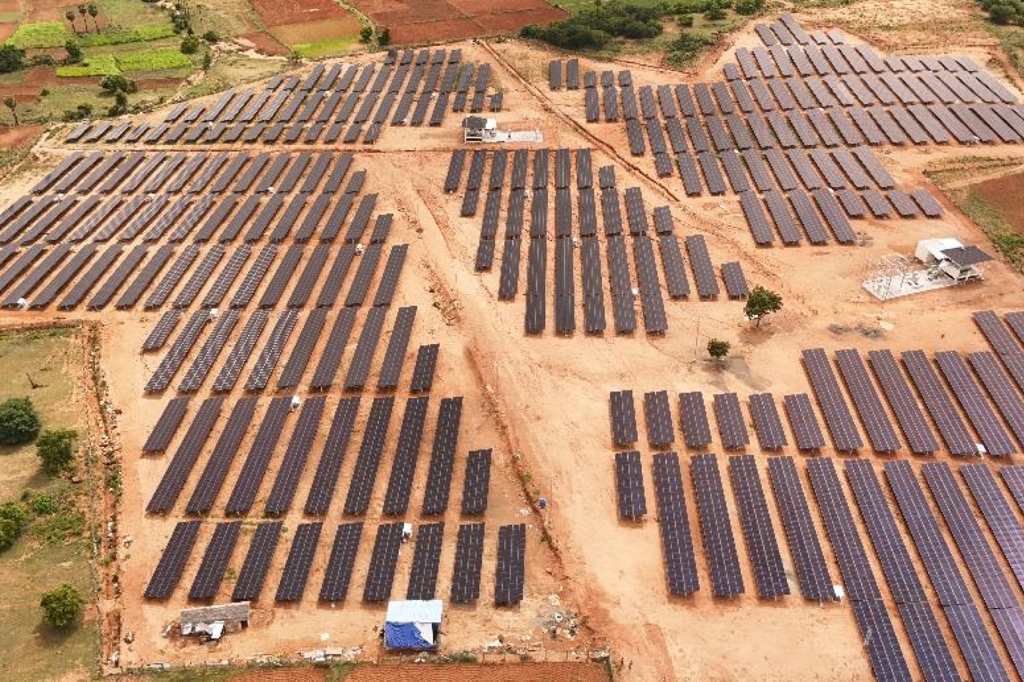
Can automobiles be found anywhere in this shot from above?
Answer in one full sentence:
No, I can't see a single automobile in this photo.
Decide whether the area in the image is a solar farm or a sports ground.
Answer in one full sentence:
The area seen from above is a solar farm.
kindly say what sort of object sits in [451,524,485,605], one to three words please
solar array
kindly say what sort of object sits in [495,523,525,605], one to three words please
solar array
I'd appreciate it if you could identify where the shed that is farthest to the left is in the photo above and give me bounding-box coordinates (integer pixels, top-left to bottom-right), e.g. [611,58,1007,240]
[176,601,251,633]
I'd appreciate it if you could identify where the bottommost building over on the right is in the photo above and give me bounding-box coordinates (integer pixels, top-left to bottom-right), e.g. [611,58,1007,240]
[916,234,968,268]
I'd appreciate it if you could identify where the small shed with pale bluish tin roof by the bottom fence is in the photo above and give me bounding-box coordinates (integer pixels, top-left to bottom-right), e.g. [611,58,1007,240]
[383,600,442,646]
